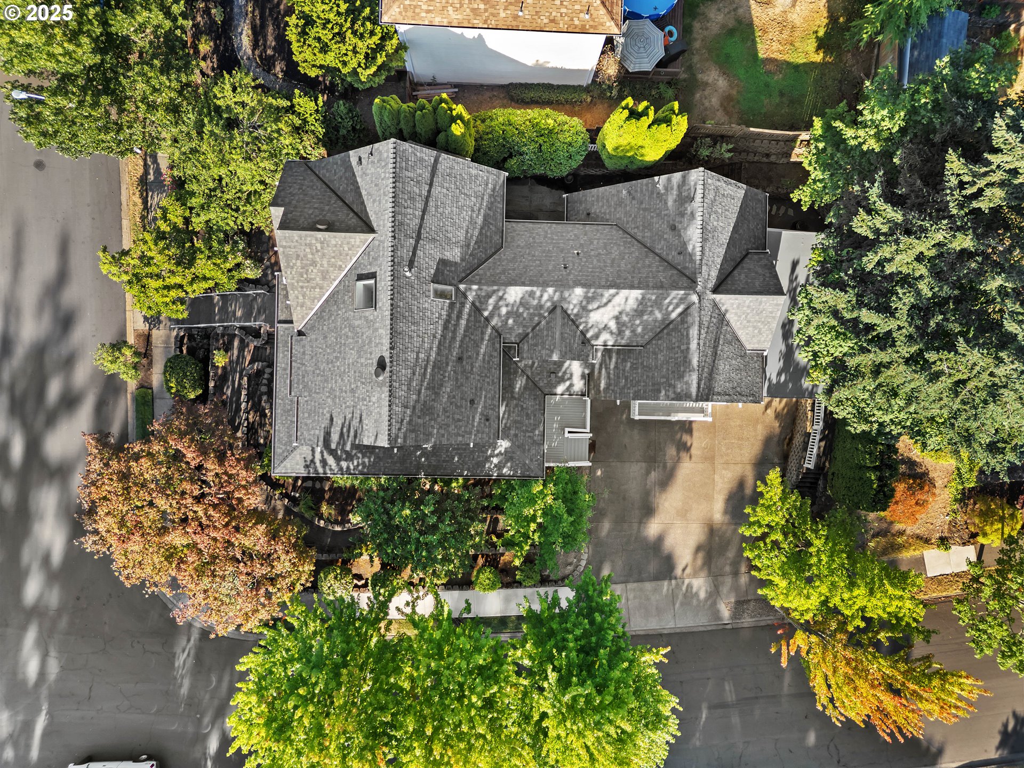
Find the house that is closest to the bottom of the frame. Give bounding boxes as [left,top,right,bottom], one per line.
[268,138,830,483]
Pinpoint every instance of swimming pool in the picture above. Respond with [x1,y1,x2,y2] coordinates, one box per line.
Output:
[626,0,685,34]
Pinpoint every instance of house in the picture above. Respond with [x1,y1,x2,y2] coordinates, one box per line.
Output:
[376,0,627,87]
[268,138,830,483]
